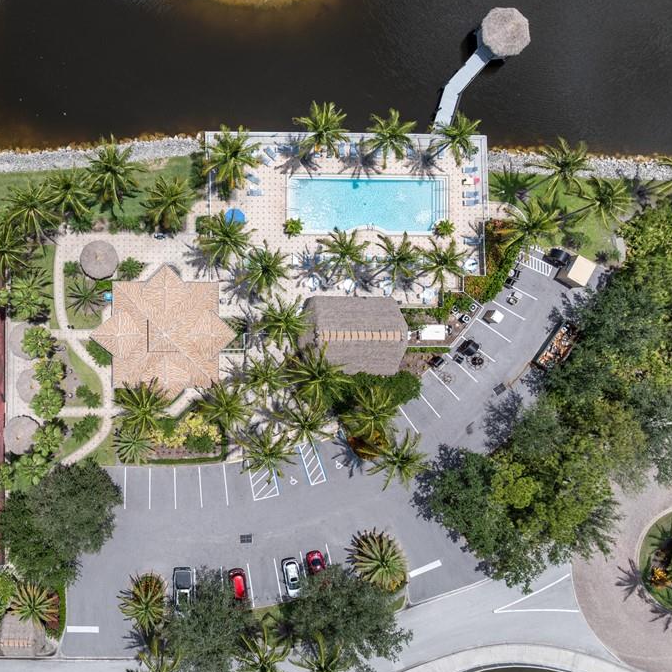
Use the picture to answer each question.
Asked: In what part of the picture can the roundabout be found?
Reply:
bottom right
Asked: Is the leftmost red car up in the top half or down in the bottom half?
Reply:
bottom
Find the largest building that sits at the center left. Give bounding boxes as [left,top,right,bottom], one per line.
[90,264,237,402]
